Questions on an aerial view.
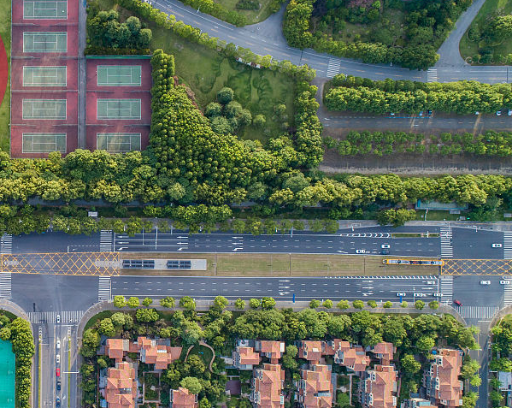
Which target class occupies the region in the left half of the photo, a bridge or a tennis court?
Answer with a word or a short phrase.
tennis court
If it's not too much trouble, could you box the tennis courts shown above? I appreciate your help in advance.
[97,65,141,85]
[22,99,66,119]
[97,99,141,119]
[22,66,66,86]
[22,132,66,152]
[22,0,66,19]
[22,32,66,52]
[97,132,141,152]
